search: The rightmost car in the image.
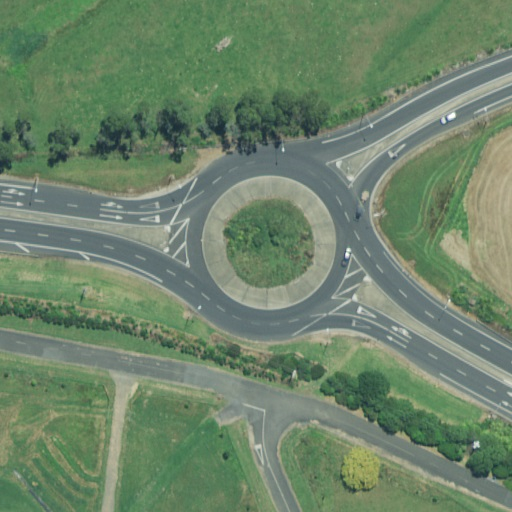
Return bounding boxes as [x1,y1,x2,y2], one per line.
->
[440,112,457,124]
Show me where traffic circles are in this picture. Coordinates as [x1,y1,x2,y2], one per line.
[184,146,370,340]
